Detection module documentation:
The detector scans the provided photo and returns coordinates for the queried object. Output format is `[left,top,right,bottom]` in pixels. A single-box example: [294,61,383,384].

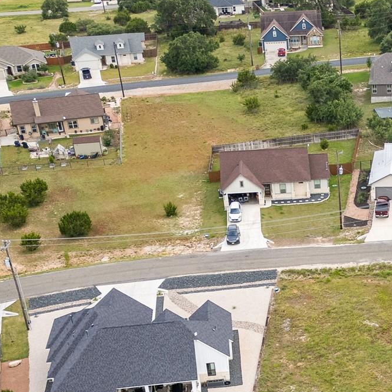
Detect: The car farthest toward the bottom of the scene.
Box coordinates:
[224,225,242,246]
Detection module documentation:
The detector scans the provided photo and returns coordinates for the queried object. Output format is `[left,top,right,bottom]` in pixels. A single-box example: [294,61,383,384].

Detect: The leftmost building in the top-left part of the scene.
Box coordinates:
[0,43,49,78]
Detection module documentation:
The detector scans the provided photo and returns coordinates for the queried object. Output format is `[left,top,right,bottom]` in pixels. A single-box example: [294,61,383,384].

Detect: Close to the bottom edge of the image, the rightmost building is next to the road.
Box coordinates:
[46,285,236,392]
